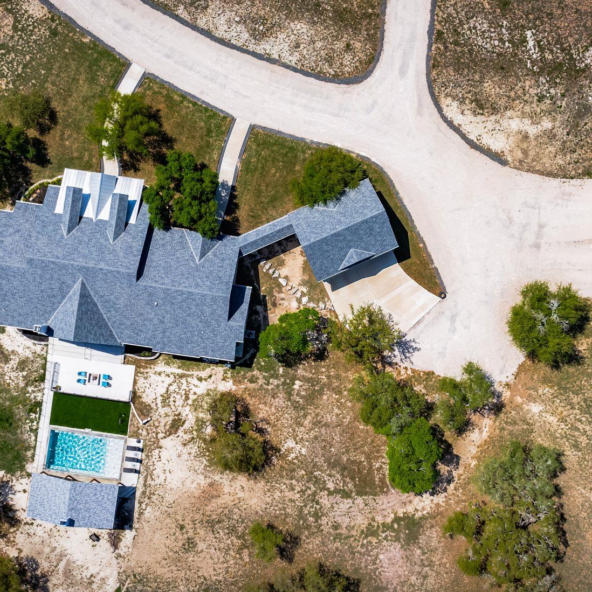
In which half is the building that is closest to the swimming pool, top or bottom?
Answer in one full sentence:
The building that is closest to the swimming pool is in the bottom half of the image.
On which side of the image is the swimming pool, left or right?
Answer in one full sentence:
It is on the left.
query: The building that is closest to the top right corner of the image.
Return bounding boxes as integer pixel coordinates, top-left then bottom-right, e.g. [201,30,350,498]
[288,180,399,283]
